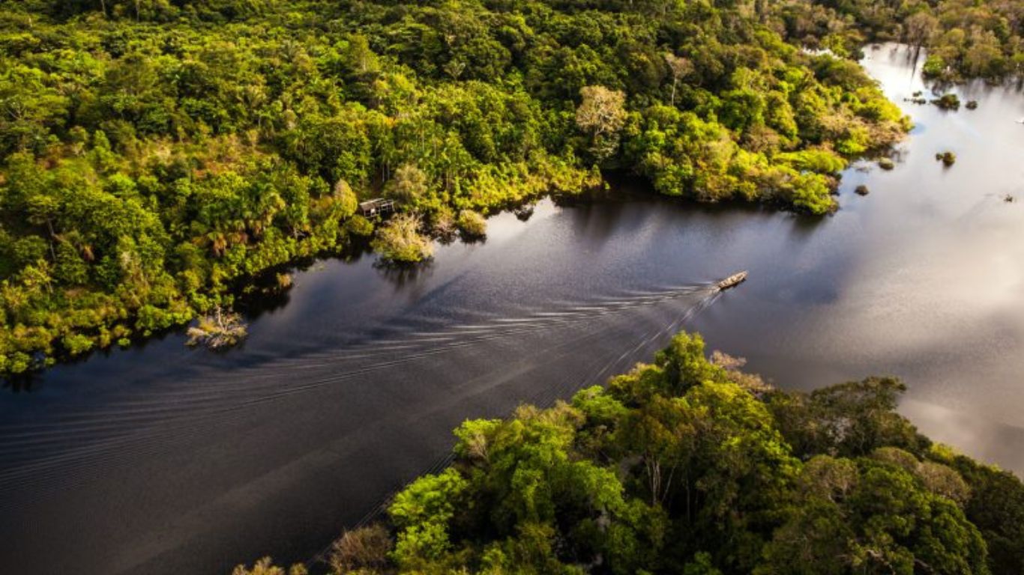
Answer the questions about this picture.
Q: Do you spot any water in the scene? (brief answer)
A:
Yes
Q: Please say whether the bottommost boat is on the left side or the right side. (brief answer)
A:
right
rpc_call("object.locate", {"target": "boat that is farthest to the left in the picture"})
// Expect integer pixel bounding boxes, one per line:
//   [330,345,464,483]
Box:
[715,270,748,292]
